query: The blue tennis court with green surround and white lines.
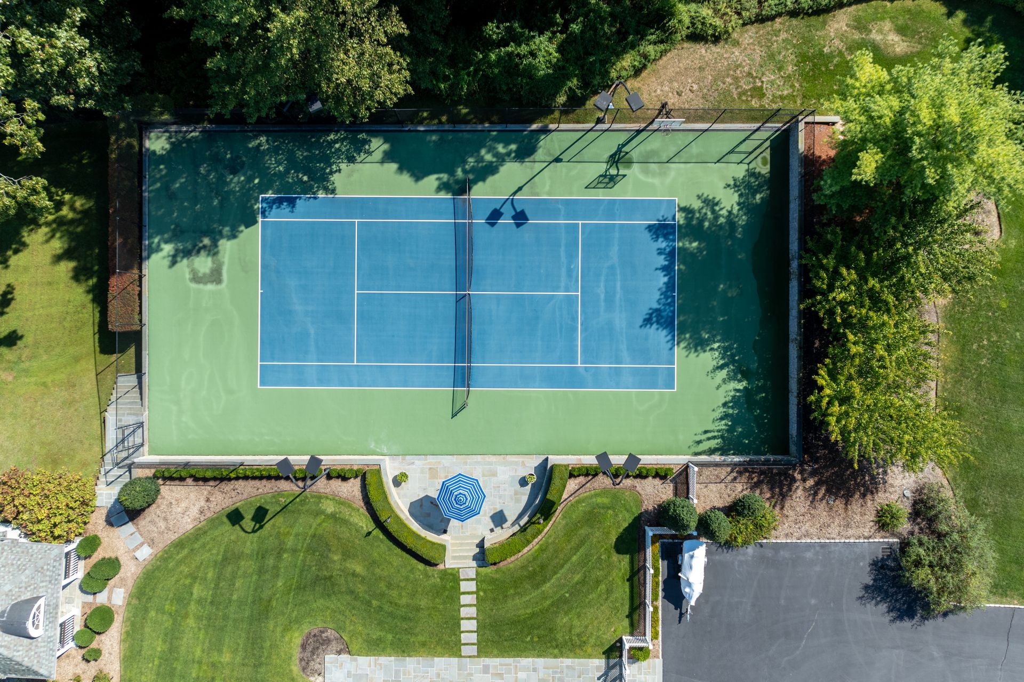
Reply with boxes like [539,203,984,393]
[148,131,790,455]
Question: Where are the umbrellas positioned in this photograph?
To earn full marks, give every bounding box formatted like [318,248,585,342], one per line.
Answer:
[436,472,486,522]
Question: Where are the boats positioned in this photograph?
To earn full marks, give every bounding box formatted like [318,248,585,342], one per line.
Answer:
[679,539,705,605]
